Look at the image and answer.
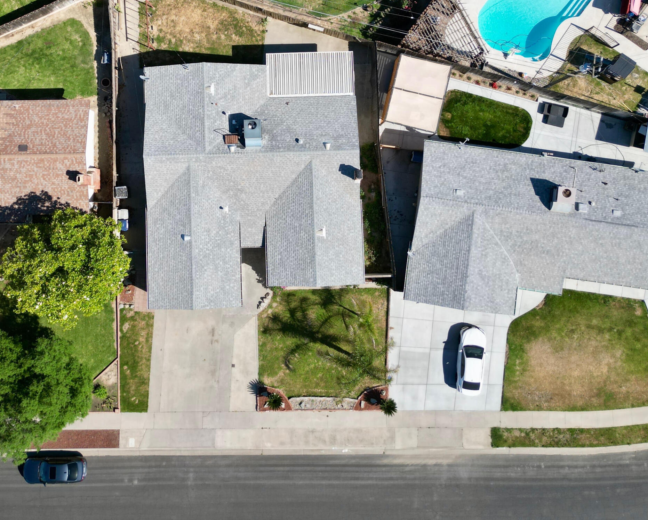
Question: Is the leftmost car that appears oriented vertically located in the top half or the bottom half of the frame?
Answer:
bottom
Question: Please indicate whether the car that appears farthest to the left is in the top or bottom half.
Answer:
bottom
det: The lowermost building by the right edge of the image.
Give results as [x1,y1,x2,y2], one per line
[402,139,648,315]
